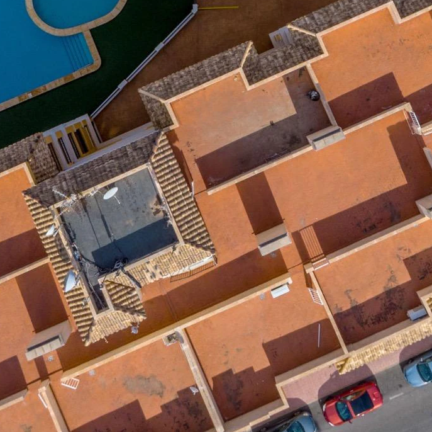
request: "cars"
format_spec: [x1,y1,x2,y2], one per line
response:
[254,408,318,432]
[401,347,432,386]
[321,378,385,425]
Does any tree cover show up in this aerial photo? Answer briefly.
No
